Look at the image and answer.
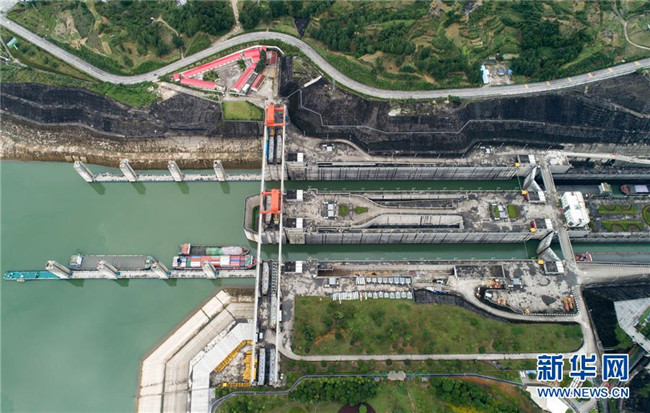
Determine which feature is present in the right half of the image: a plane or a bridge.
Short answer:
bridge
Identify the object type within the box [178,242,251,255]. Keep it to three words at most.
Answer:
ship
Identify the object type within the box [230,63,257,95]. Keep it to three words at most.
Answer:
building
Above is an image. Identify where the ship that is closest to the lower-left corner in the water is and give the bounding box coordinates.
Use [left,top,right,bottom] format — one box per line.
[2,270,66,282]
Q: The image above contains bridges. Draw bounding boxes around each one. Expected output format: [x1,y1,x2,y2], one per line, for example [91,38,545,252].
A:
[542,150,581,275]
